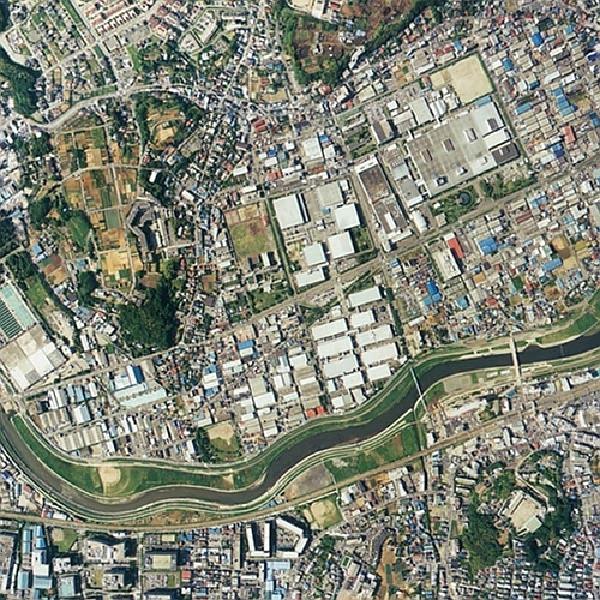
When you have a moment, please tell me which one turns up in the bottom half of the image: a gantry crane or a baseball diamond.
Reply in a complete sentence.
It is a baseball diamond that can be seen in the bottom half of the image.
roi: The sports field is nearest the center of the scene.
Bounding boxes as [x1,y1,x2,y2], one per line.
[224,203,278,272]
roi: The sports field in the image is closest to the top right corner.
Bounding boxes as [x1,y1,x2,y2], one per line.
[448,53,492,107]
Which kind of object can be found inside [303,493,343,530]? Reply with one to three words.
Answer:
sports field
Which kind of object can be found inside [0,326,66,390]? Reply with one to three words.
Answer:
building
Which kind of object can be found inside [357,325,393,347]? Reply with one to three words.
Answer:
building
